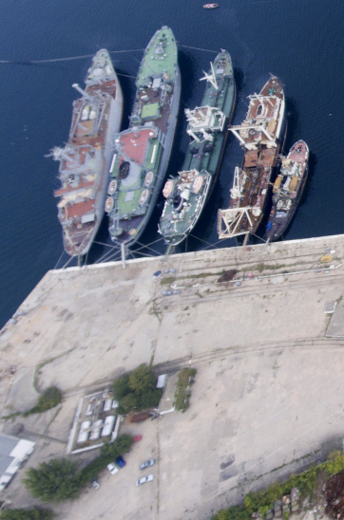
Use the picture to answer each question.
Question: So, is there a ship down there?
Yes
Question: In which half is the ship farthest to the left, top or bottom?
top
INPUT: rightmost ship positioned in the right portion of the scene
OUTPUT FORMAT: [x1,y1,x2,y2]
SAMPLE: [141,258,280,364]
[265,138,311,242]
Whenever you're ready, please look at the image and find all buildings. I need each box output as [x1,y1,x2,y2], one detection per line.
[157,374,171,389]
[0,430,48,492]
